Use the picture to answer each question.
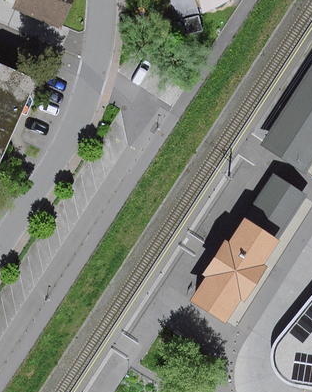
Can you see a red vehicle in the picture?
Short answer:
No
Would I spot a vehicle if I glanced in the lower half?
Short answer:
No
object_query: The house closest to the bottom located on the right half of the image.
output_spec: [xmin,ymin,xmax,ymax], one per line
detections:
[192,218,280,323]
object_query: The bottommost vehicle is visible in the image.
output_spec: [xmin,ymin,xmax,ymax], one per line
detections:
[25,118,50,134]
